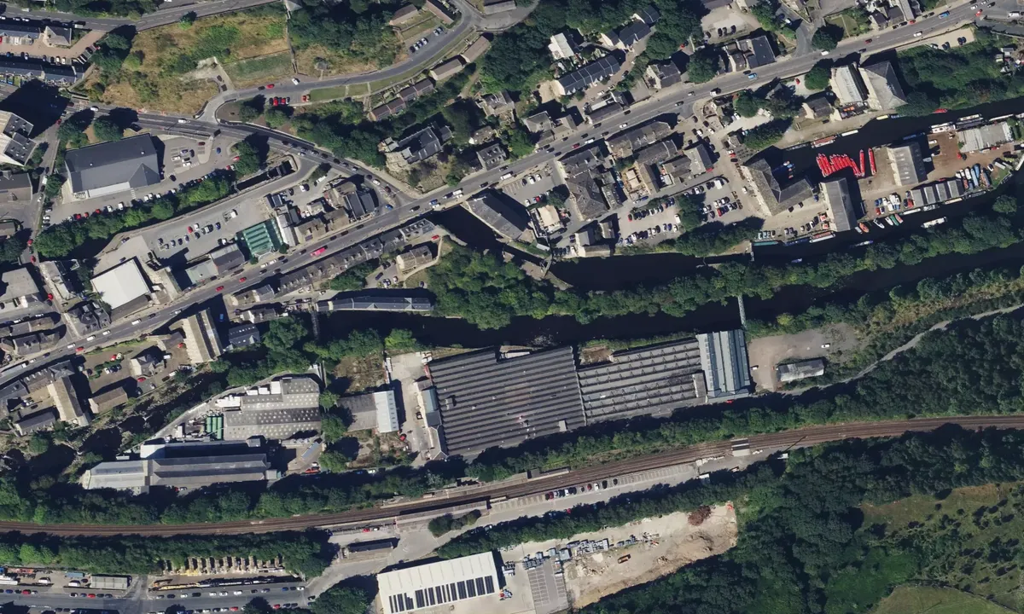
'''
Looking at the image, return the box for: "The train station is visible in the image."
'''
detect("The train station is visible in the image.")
[321,470,567,556]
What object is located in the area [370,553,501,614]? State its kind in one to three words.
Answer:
building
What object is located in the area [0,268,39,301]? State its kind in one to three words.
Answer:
building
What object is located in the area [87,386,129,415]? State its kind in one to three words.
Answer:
shed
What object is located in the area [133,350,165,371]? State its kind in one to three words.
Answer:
house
